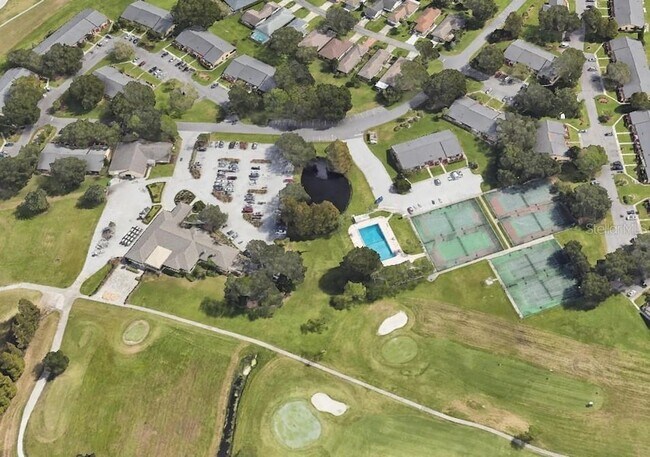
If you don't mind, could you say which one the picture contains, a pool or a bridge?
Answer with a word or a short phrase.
pool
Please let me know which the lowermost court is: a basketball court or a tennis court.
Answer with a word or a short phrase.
tennis court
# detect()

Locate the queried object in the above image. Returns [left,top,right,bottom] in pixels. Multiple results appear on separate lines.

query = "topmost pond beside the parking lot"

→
[301,158,352,209]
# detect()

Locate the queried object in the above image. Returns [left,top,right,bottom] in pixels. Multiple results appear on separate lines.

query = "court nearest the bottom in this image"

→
[487,240,583,316]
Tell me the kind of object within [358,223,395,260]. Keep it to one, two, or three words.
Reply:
swimming pool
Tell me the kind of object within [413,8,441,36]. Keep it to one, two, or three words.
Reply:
house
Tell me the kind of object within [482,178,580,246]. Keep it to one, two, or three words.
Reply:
tennis court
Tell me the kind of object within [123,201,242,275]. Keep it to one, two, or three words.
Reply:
building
